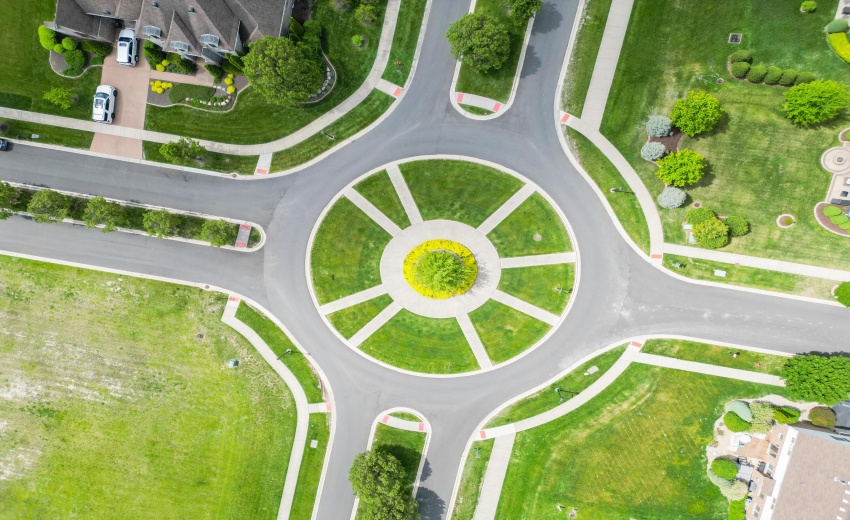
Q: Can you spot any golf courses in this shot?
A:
No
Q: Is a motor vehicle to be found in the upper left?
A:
Yes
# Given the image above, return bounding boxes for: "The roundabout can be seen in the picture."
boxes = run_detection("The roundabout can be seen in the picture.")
[264,91,633,428]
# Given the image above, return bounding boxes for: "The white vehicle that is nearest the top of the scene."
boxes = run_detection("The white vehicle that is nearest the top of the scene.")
[115,29,137,70]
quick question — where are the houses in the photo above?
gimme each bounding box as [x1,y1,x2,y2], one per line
[56,0,293,62]
[747,420,850,520]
